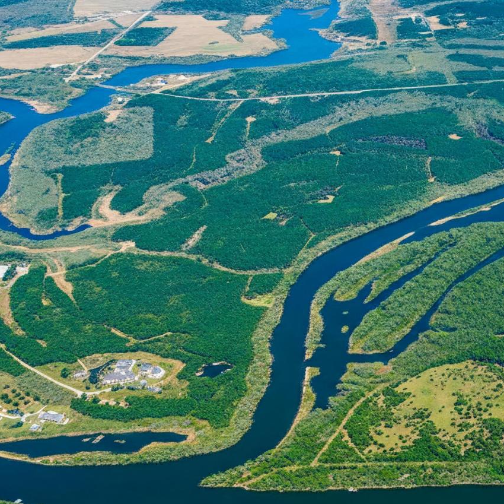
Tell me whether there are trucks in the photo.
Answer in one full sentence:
No, there isn't any truck down there.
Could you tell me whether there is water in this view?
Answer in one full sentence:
Yes, water can be seen from above here.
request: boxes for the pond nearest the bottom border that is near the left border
[0,431,186,457]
